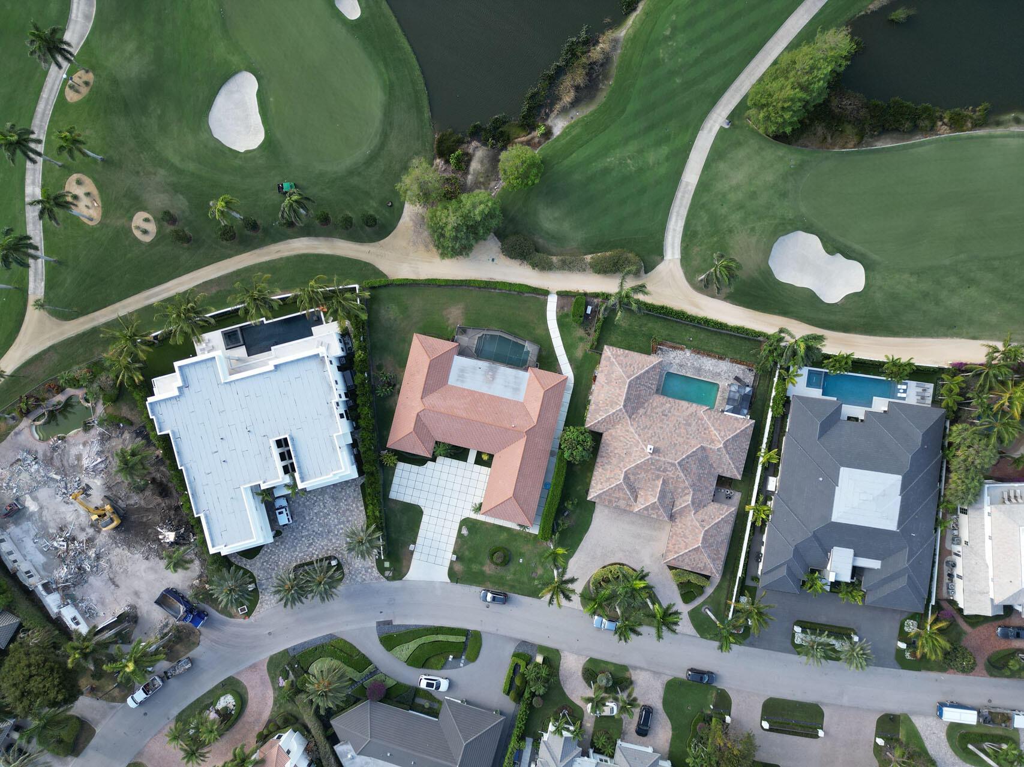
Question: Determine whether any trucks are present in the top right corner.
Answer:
No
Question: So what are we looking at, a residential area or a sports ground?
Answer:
residential area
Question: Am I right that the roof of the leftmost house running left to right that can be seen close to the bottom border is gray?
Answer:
Yes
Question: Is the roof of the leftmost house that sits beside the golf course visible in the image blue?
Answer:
No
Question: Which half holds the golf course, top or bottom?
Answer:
top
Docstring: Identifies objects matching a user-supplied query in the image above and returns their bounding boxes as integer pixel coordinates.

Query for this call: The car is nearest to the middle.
[479,588,508,605]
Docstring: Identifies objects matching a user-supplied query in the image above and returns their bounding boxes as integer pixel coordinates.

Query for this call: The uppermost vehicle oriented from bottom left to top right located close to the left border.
[0,495,25,518]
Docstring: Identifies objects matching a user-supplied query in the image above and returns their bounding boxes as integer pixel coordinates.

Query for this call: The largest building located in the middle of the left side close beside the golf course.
[147,332,364,555]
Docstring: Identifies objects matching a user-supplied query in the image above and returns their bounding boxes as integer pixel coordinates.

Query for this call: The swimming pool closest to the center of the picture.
[473,332,532,369]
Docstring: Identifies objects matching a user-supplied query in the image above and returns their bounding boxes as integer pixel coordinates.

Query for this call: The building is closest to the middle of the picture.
[386,333,568,527]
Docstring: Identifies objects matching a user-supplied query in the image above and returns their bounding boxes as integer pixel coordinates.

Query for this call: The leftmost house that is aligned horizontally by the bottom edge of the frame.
[330,694,505,767]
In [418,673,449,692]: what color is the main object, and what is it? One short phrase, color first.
white car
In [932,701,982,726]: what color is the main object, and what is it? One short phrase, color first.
white vehicle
